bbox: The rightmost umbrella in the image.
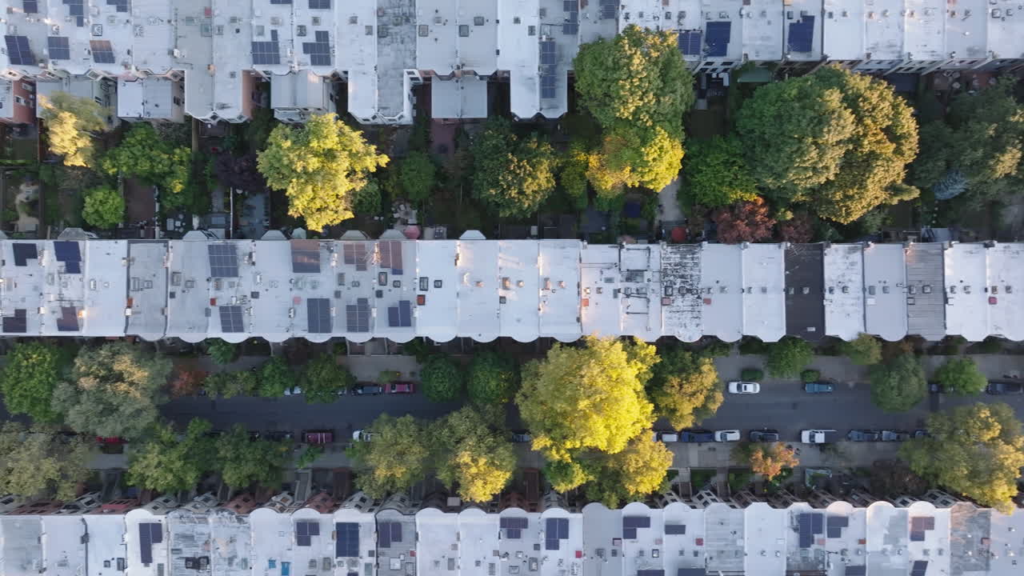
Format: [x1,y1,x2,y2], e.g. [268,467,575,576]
[671,225,686,240]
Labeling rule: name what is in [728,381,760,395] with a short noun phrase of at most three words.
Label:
car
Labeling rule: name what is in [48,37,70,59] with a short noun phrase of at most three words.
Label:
solar array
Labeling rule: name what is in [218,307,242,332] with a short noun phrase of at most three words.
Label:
solar array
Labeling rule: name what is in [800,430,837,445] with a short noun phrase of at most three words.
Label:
vehicle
